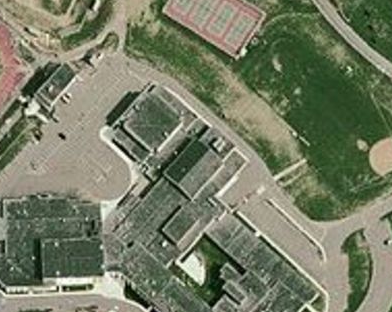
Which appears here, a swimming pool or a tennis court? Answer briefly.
tennis court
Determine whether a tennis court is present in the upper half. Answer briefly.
Yes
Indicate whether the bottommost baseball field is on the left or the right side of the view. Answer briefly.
right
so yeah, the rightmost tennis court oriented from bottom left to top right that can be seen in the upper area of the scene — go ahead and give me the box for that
[225,13,255,49]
